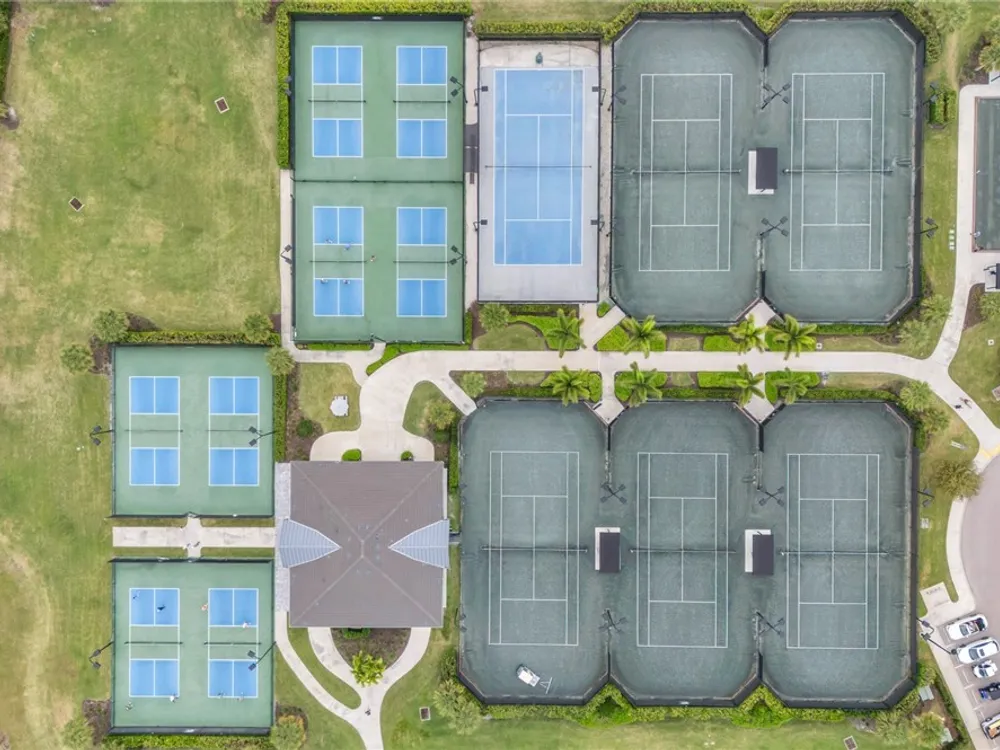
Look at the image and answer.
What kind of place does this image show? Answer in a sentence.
It's a sports ground.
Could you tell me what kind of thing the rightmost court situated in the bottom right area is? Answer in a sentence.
It looks like the rightmost court situated in the bottom right area is a tennis court.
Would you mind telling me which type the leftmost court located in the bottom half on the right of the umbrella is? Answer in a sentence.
The leftmost court located in the bottom half on the right of the umbrella is a tennis court.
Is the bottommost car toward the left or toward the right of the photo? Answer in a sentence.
The bottommost car is on the right side of the image.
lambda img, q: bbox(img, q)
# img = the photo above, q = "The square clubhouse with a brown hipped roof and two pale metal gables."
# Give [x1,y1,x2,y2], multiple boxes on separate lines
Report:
[279,461,451,629]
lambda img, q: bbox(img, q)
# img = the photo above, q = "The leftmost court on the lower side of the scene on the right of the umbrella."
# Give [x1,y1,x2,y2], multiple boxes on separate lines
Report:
[460,403,608,697]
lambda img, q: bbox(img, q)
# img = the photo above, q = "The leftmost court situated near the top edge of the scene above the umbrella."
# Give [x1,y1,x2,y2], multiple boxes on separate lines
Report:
[294,21,379,181]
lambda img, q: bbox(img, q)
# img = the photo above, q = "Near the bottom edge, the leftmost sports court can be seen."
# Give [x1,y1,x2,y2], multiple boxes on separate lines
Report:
[114,559,194,728]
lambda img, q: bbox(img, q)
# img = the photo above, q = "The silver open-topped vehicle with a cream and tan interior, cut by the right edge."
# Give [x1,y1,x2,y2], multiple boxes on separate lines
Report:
[978,712,1000,737]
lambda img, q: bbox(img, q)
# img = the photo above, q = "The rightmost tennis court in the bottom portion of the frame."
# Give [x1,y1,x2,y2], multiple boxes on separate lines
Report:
[759,405,911,701]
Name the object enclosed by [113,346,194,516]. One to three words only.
sports court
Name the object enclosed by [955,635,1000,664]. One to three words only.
car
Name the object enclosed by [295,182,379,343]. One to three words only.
sports court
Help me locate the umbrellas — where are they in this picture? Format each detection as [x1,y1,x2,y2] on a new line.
[331,397,350,416]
